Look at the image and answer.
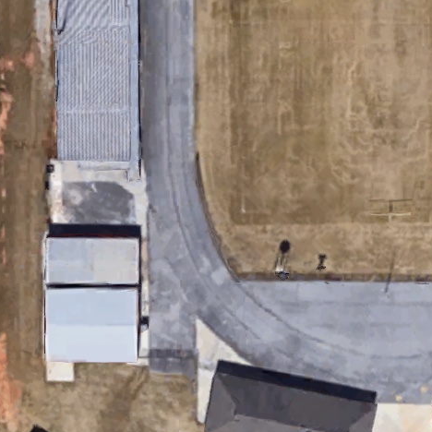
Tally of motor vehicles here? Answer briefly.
0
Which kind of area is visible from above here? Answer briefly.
sports ground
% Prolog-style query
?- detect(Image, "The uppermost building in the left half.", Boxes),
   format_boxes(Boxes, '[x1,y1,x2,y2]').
[45,233,140,284]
